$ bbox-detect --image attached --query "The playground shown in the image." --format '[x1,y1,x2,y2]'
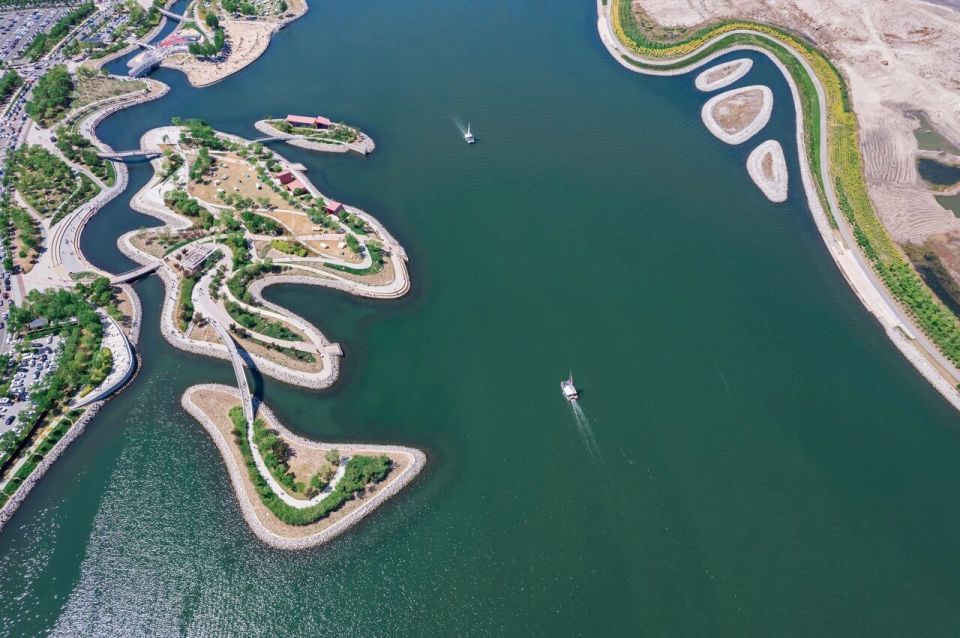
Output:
[156,28,202,49]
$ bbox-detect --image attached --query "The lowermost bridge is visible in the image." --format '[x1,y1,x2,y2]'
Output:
[205,314,254,419]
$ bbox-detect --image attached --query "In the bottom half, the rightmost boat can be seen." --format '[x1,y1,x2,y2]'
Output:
[561,377,579,403]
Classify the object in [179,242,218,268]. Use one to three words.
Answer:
building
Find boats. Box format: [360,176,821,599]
[561,377,579,403]
[463,127,476,141]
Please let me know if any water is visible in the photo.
Yes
